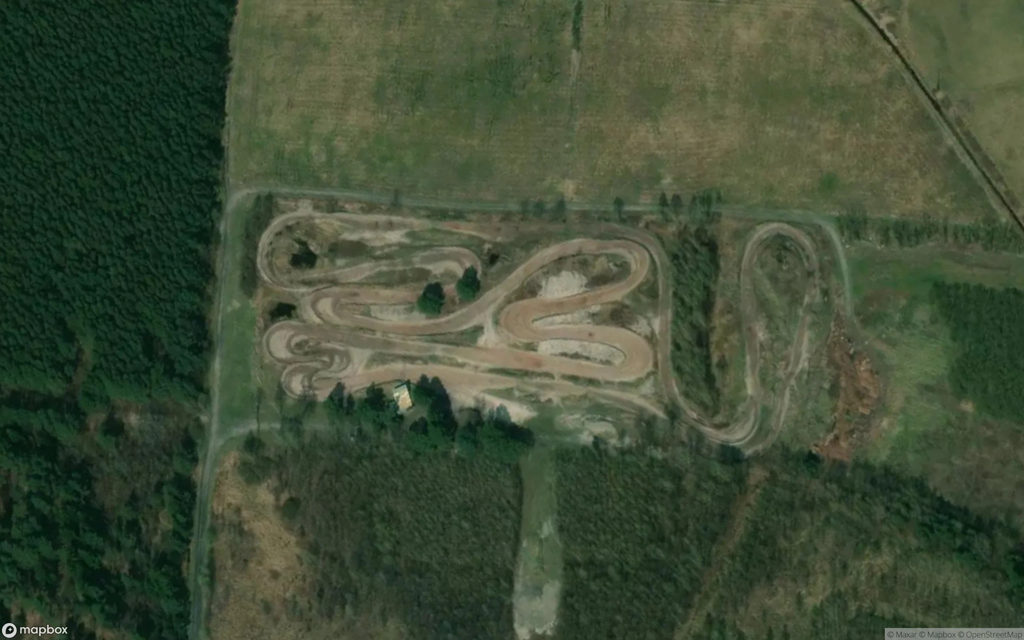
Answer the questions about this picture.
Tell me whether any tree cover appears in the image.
Yes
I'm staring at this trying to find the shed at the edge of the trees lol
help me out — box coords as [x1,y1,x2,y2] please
[394,384,413,409]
